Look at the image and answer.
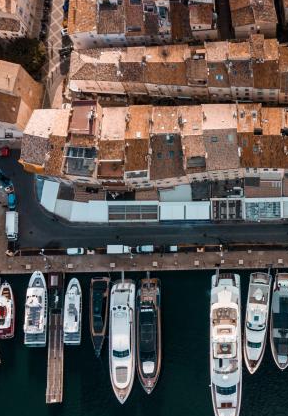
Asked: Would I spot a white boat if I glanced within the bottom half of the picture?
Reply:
Yes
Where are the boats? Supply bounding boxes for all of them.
[269,267,288,377]
[208,268,242,416]
[63,277,85,347]
[108,270,139,411]
[0,281,19,339]
[244,265,271,382]
[90,277,110,356]
[22,270,51,347]
[133,270,164,402]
